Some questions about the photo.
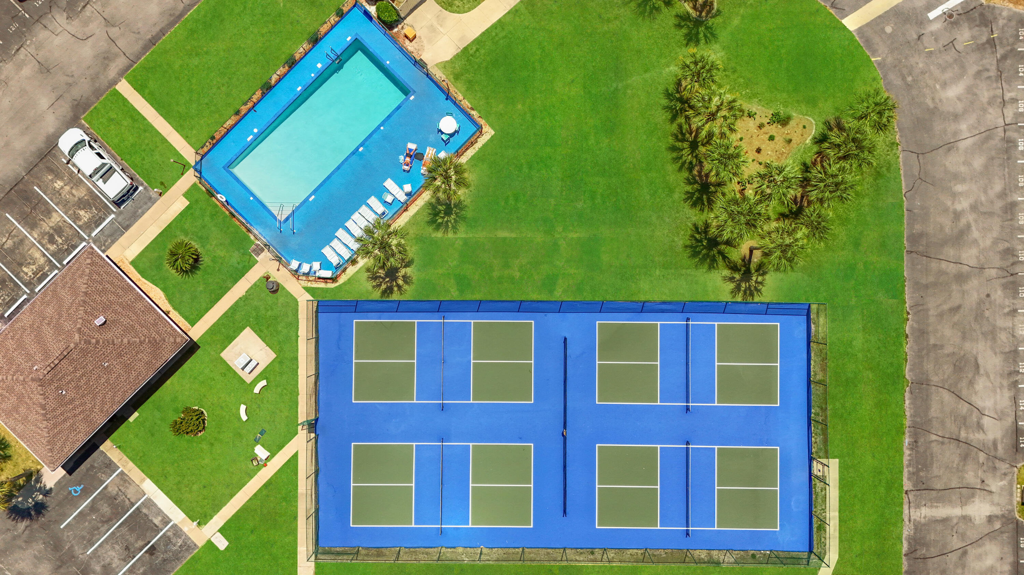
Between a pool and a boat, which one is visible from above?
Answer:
pool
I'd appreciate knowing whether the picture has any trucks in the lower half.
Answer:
No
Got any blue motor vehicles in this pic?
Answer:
No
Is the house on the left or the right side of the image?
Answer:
left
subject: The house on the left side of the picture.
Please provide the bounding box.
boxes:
[0,240,194,474]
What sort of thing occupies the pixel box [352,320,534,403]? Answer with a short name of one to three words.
sports court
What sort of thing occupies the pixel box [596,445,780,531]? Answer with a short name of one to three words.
sports court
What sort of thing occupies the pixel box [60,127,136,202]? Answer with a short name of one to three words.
truck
